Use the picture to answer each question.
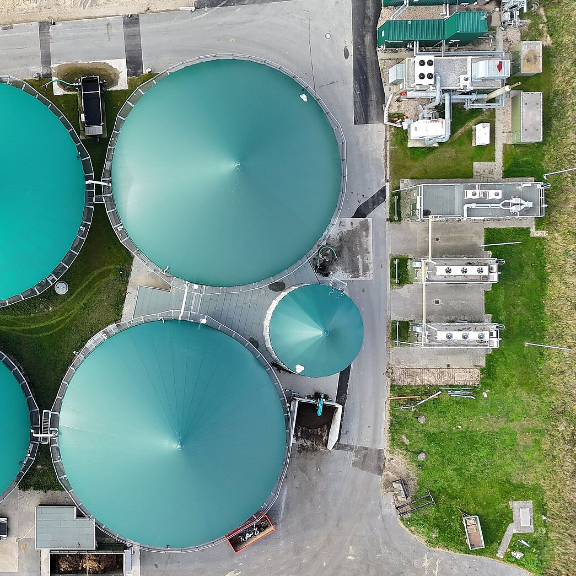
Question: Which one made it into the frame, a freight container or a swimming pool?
freight container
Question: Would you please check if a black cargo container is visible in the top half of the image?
Yes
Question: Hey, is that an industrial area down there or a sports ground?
industrial area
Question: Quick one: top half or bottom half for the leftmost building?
bottom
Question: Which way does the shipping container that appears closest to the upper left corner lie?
from top to bottom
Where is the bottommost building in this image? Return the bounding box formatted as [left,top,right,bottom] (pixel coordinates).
[35,501,95,550]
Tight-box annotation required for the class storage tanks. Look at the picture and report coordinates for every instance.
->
[0,77,94,309]
[0,345,41,504]
[50,310,292,552]
[100,53,345,297]
[264,282,363,377]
